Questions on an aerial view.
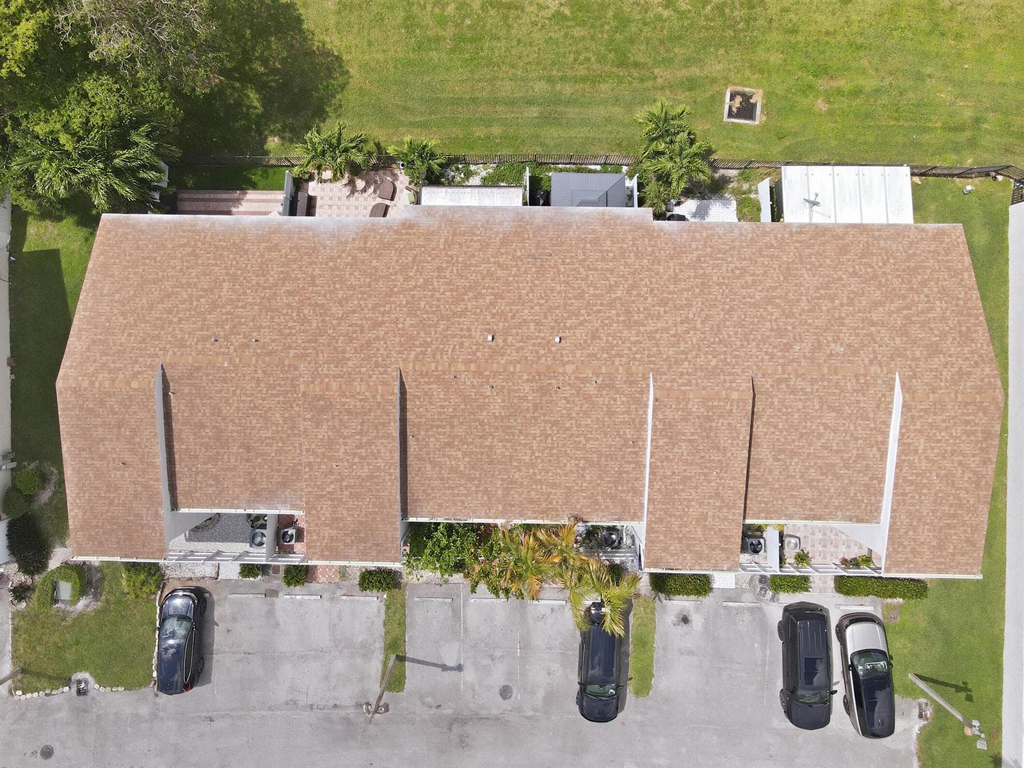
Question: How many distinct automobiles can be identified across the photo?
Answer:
four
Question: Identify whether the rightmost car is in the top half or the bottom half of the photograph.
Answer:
bottom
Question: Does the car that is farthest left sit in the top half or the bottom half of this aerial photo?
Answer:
bottom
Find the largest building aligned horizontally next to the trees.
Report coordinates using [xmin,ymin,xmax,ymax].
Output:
[55,205,1005,582]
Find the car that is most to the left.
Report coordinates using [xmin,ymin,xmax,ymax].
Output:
[150,584,209,693]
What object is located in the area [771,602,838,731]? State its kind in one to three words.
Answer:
car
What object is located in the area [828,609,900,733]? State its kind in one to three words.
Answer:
car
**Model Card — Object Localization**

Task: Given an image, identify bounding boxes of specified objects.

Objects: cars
[573,602,627,722]
[828,609,900,733]
[150,584,209,693]
[771,602,838,731]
